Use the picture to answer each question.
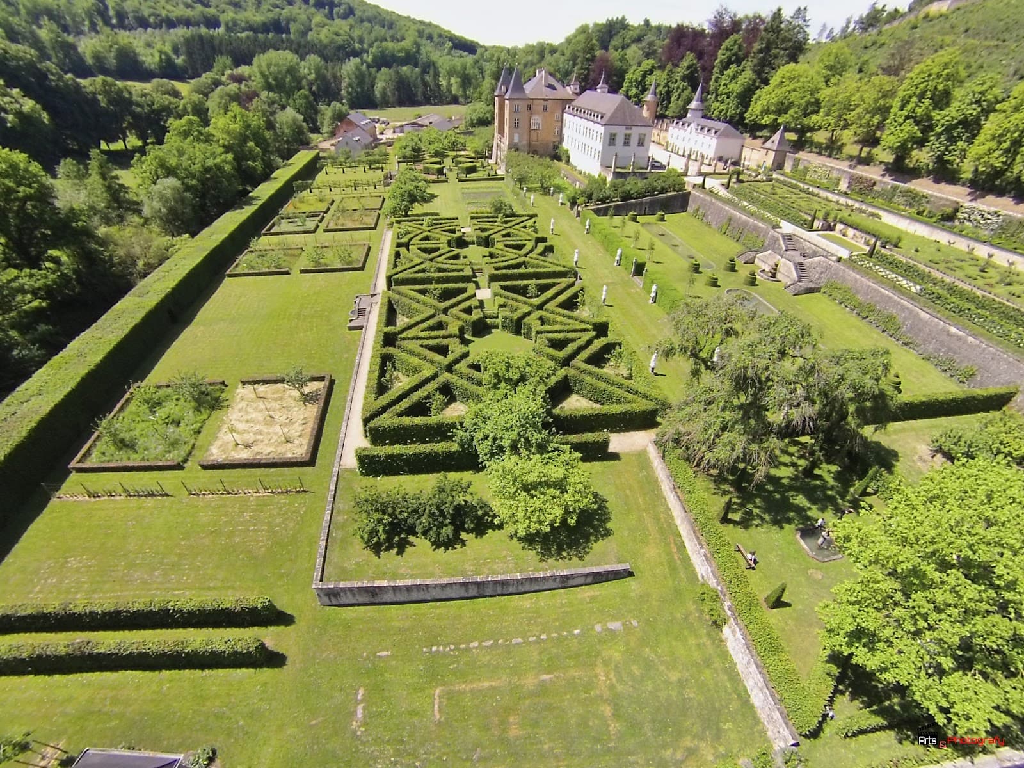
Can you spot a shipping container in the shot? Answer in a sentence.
No, there's no shipping container here.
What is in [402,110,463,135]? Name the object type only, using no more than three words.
barn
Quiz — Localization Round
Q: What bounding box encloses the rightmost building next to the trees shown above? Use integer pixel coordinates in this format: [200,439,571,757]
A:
[761,127,791,168]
